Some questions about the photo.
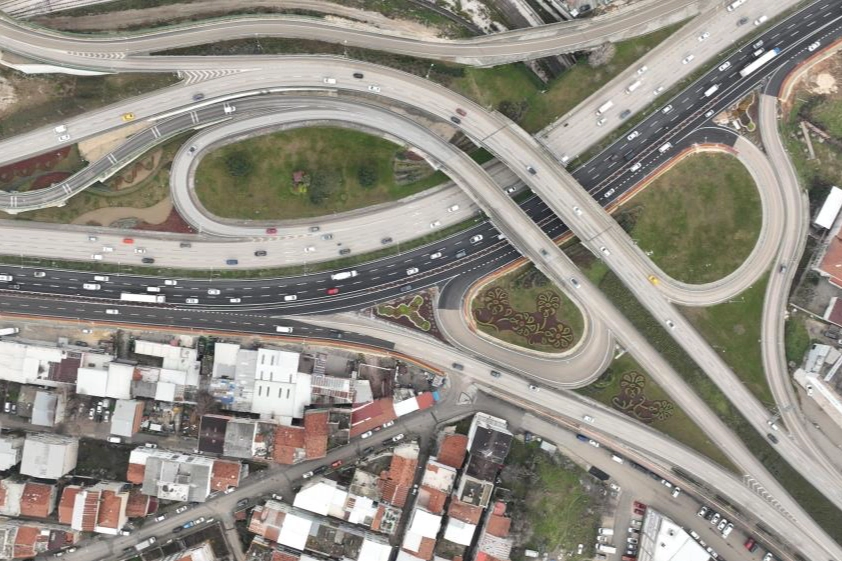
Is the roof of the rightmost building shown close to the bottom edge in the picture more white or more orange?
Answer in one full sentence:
From above, the roof of the rightmost building shown close to the bottom edge appears white.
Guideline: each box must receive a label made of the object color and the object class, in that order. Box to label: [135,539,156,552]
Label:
white vehicle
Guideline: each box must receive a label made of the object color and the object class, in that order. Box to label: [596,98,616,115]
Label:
white vehicle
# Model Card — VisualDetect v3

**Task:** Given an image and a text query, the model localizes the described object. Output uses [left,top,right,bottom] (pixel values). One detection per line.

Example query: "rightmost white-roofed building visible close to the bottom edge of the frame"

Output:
[651,510,717,561]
